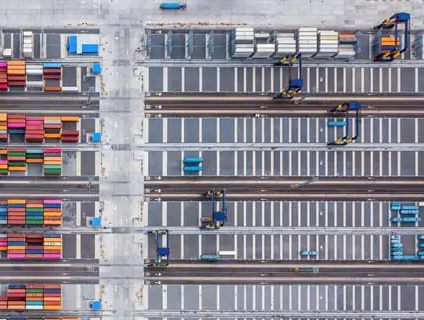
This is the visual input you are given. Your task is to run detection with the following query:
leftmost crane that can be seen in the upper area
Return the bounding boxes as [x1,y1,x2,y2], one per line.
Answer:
[274,51,304,98]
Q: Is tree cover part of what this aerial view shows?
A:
No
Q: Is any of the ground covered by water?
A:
No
